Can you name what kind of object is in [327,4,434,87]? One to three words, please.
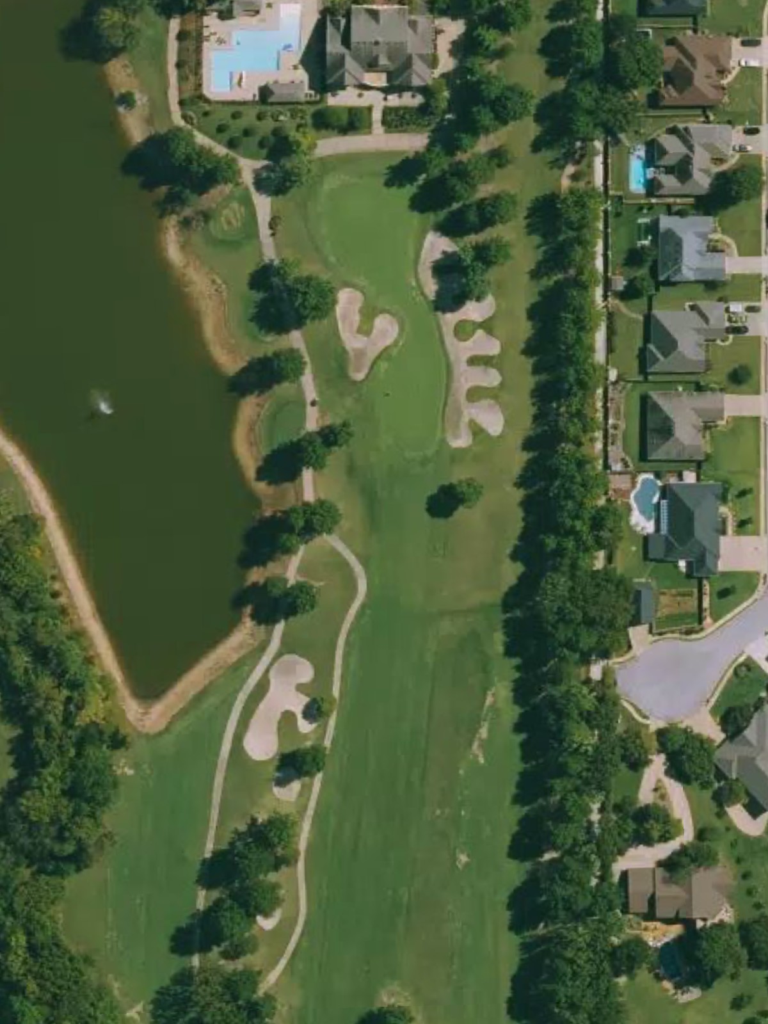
building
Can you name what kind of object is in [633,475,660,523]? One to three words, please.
swimming pool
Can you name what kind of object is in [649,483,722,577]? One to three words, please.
house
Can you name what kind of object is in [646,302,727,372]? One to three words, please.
house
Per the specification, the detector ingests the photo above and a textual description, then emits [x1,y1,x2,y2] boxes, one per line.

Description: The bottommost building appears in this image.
[628,866,733,920]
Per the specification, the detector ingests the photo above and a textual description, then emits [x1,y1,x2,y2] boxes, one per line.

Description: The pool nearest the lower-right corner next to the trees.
[658,938,690,980]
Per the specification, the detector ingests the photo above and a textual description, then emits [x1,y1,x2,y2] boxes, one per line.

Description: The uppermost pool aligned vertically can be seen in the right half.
[628,143,646,195]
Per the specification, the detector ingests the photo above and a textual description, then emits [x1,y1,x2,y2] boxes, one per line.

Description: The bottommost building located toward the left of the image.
[259,83,305,101]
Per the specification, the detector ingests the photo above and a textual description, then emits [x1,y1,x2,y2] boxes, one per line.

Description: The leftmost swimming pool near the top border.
[210,2,303,93]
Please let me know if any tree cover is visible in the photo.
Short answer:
Yes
